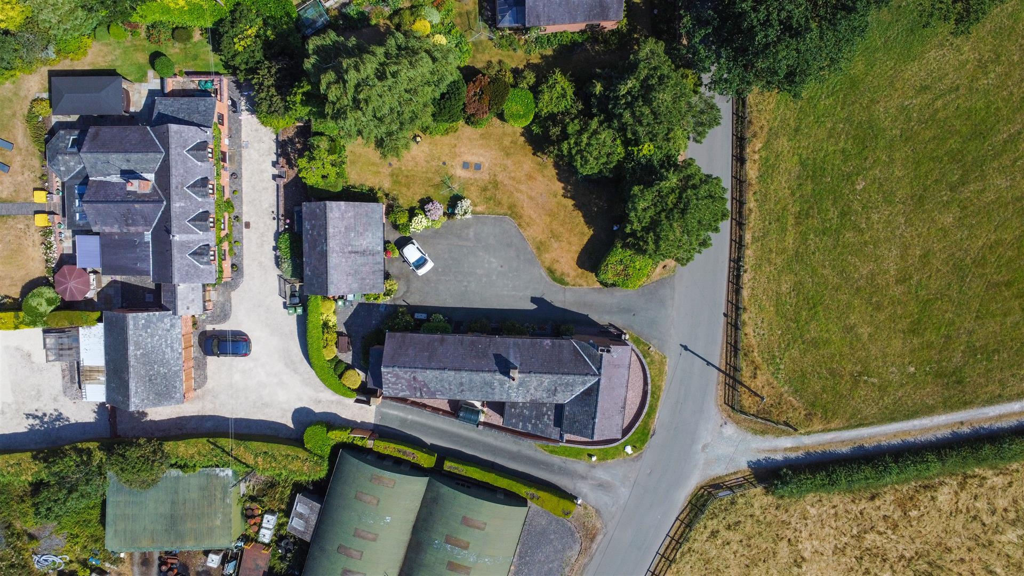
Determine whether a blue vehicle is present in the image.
Yes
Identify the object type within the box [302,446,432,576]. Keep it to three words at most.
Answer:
barn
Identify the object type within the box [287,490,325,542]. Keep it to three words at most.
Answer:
shed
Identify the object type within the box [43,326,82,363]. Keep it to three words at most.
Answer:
greenhouse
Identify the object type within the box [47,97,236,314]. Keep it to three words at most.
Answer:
house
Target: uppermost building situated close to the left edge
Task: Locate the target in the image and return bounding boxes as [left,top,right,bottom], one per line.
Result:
[51,76,133,119]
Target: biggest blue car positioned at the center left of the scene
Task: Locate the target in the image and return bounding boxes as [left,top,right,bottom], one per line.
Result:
[207,334,251,357]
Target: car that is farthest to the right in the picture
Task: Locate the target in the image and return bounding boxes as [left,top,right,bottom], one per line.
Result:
[402,239,434,277]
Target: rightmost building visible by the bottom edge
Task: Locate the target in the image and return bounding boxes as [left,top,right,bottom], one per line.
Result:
[398,471,529,576]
